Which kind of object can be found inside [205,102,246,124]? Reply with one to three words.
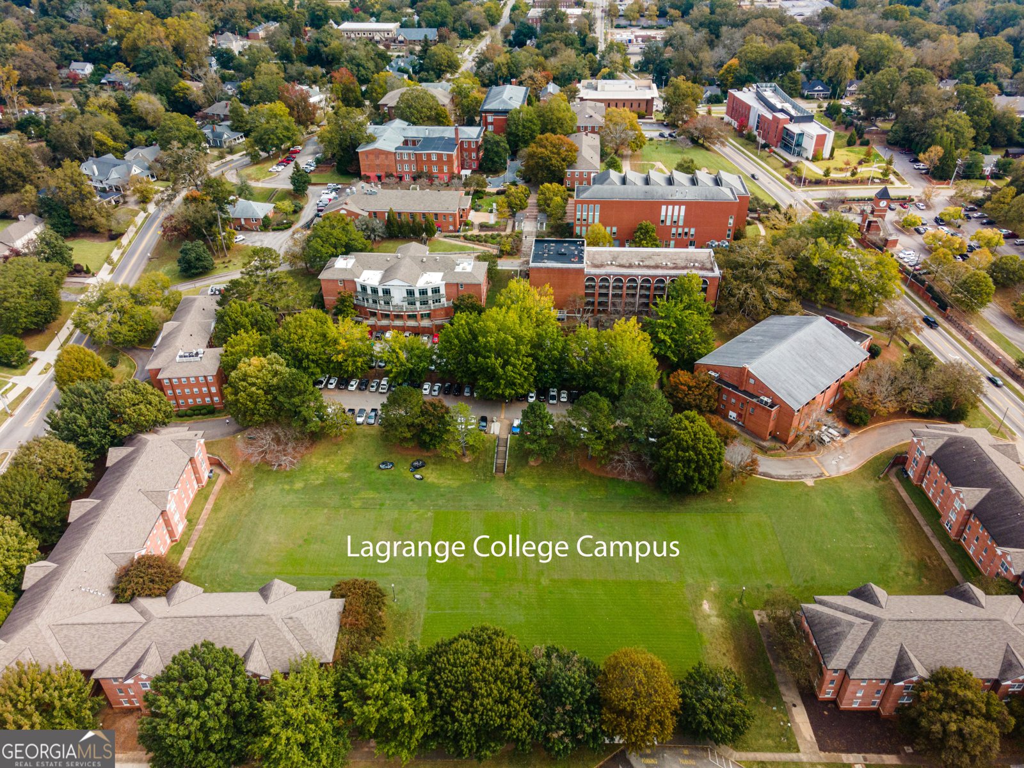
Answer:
house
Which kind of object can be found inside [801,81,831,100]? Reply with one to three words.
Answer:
house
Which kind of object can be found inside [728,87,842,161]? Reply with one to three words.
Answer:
building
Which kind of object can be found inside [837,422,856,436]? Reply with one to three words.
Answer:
car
